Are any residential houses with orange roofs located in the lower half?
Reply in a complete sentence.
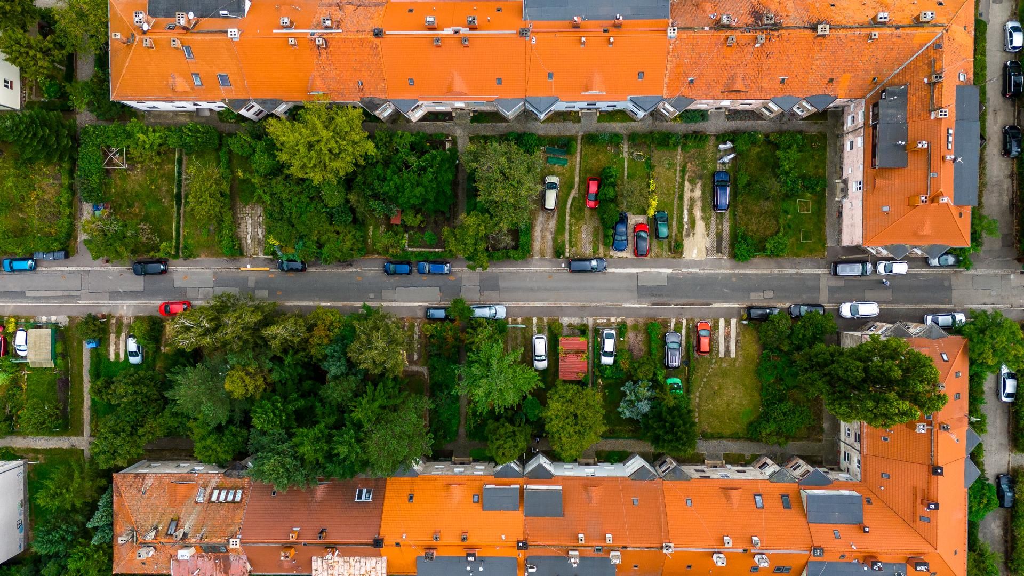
Yes, in the lower half there is a residential house with an orange roof.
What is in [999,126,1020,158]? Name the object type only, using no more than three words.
car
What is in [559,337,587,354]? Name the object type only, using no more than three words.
shed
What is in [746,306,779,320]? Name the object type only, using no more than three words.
car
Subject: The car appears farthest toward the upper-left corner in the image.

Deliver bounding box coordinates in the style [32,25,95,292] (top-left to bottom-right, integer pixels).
[4,257,39,273]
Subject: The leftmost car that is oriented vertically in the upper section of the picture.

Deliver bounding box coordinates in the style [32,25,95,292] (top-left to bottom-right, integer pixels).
[543,175,559,211]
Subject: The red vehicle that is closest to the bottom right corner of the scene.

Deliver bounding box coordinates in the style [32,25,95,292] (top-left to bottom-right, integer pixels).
[696,320,712,355]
